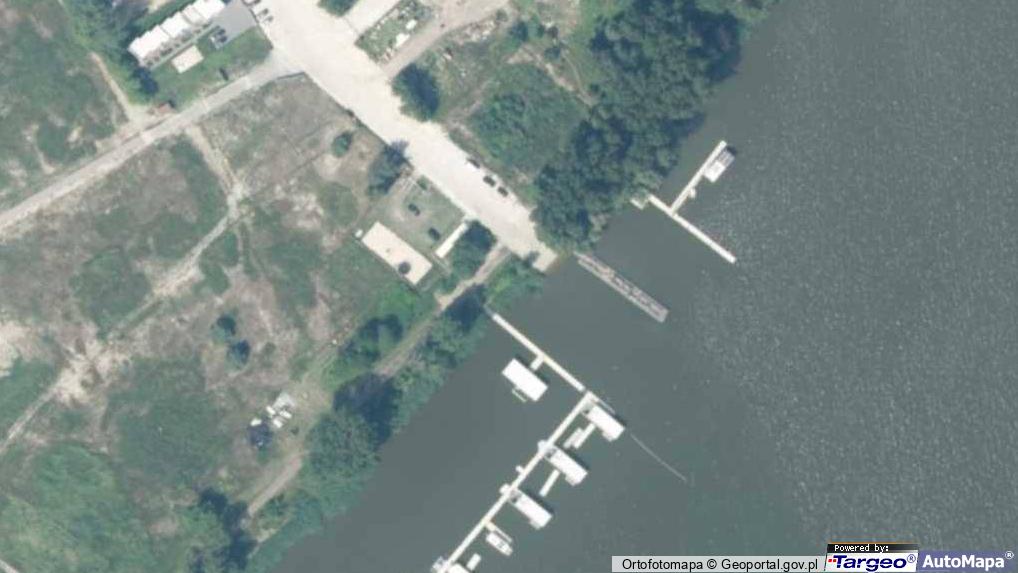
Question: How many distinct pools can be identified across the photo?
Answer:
0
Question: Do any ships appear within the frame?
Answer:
Yes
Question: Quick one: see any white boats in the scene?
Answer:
Yes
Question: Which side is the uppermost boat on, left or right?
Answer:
right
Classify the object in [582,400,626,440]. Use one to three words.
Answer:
boat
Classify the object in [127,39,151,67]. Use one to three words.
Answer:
house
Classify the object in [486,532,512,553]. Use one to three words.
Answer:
boat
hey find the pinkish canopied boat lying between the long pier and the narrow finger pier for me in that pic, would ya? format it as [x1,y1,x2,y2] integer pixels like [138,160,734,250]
[564,429,582,449]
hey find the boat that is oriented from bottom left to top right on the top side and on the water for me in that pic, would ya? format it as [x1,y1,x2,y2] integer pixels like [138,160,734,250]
[704,149,735,182]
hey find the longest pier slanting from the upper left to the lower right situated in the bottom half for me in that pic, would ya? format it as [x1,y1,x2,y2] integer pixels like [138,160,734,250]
[493,314,585,391]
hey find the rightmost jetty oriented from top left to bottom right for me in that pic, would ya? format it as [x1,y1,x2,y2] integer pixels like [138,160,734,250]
[649,195,735,263]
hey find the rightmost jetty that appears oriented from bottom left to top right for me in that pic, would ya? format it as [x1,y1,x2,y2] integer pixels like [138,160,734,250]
[672,142,725,212]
